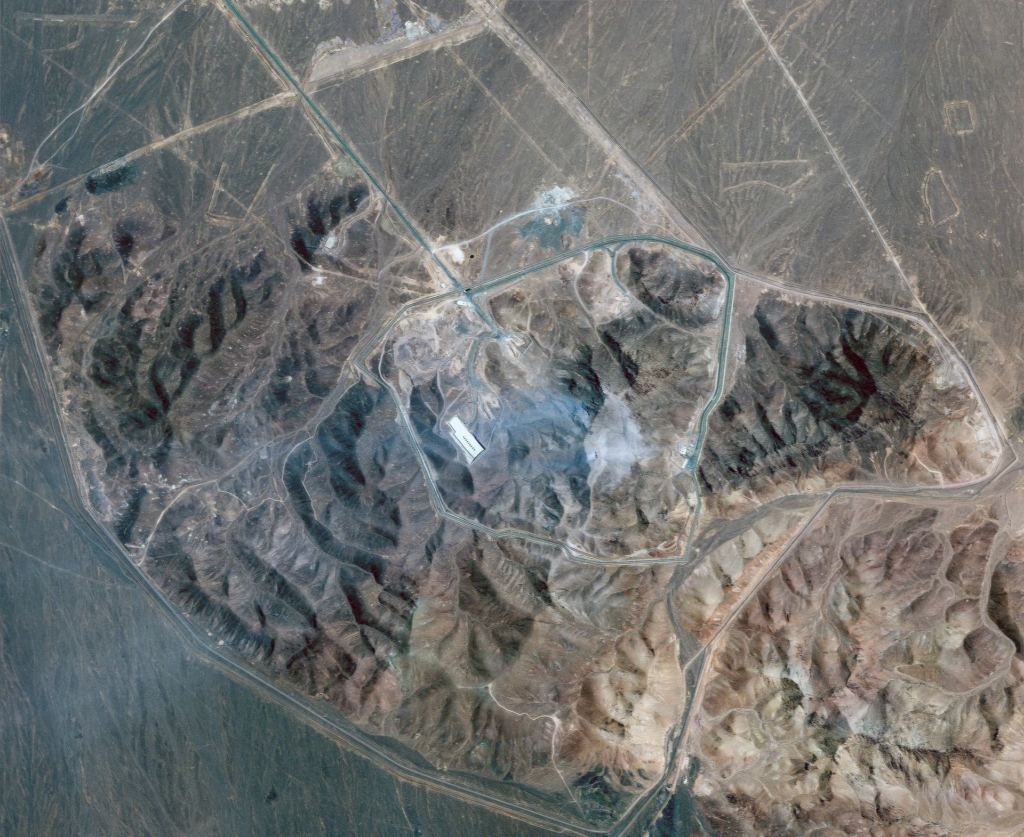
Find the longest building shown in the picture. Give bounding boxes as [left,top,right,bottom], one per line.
[448,415,486,464]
